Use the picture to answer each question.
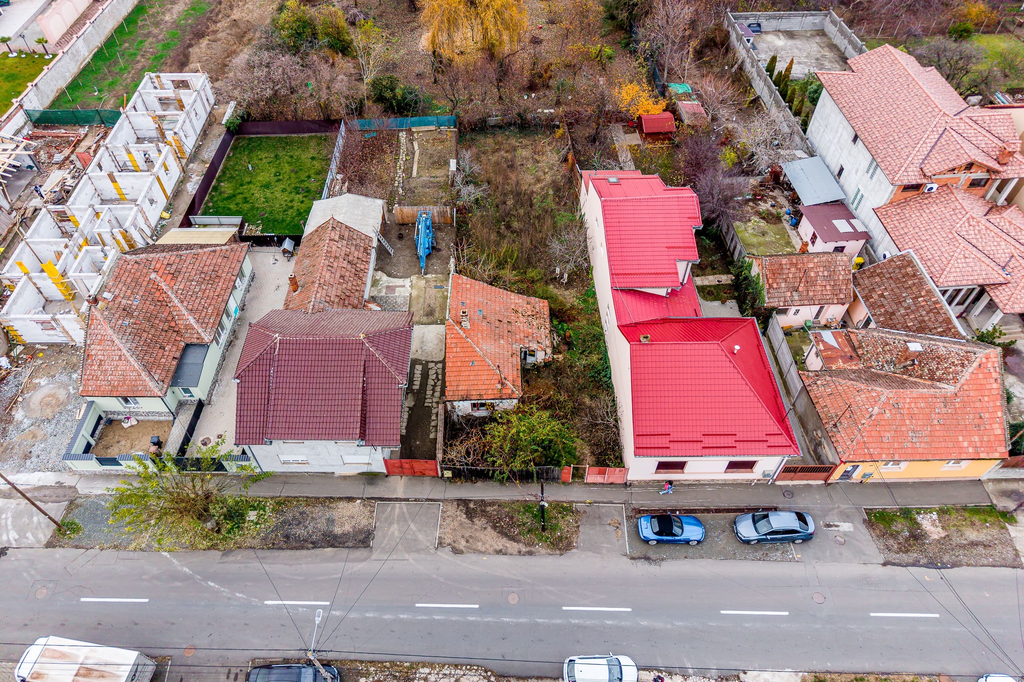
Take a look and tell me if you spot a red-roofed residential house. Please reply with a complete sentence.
Yes, a red-roofed residential house appears in the view.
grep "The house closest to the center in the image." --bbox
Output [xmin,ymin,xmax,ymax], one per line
[443,272,552,421]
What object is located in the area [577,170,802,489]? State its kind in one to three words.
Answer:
house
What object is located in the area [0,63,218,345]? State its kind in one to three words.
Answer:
house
